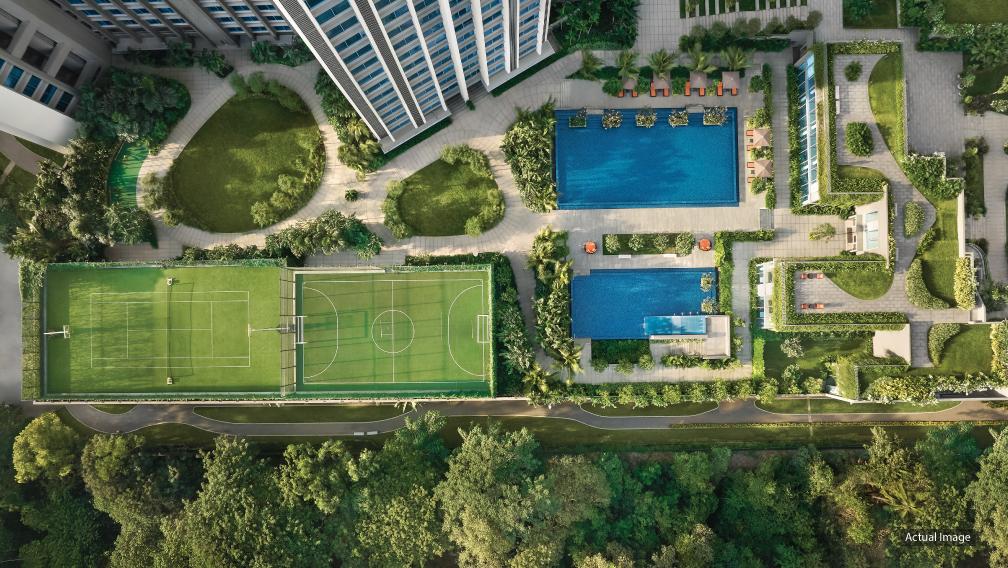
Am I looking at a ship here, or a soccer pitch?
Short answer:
soccer pitch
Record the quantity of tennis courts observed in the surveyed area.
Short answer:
1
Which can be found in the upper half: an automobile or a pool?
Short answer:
pool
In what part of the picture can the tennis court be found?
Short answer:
left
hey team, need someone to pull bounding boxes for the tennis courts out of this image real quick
[45,263,295,399]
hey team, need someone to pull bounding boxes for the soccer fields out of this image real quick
[297,268,491,397]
